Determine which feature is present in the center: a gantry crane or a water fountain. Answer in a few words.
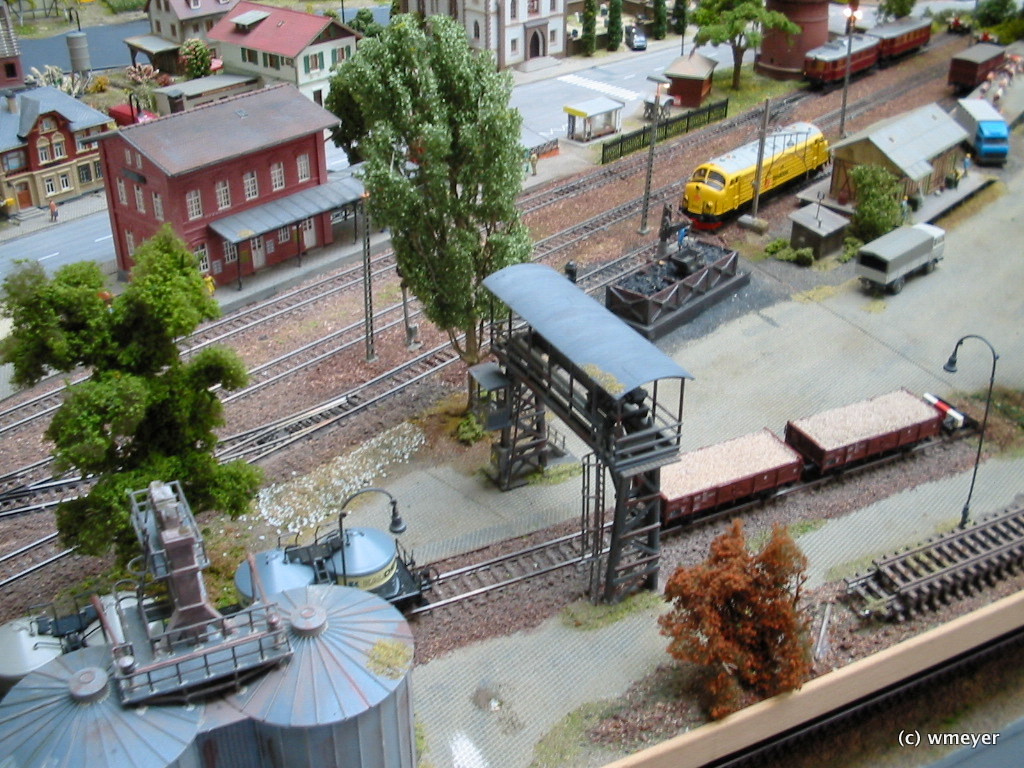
gantry crane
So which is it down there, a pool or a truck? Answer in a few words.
truck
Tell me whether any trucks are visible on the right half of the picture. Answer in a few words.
Yes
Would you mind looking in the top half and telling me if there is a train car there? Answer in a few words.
Yes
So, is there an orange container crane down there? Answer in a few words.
No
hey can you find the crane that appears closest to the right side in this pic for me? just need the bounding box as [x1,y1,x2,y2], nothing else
[641,197,700,259]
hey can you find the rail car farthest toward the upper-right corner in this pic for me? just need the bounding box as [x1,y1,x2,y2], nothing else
[948,45,1004,88]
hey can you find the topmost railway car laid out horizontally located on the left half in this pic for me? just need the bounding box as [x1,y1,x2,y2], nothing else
[224,518,426,625]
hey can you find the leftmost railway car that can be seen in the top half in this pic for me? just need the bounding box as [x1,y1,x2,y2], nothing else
[682,135,827,233]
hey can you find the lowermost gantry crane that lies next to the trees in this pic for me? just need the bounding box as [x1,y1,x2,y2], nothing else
[465,258,696,606]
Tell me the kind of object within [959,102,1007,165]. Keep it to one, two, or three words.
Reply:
truck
